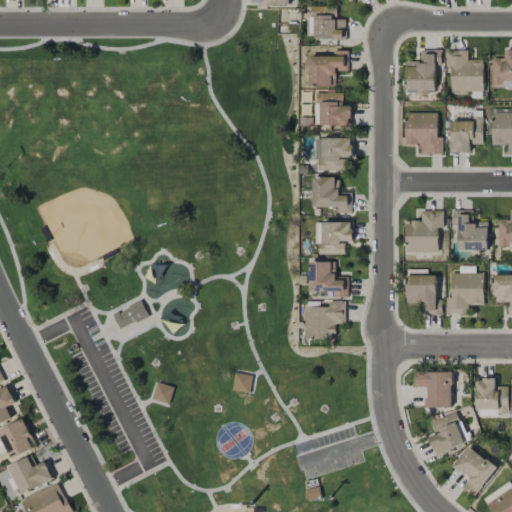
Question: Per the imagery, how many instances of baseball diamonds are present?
one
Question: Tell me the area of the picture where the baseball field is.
left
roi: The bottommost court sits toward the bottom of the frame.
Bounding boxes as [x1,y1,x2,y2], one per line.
[216,422,254,460]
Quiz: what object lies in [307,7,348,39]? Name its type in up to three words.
house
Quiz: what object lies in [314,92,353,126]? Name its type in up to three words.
house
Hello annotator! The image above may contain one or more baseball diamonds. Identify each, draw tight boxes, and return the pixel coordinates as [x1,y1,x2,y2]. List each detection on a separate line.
[38,186,133,266]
